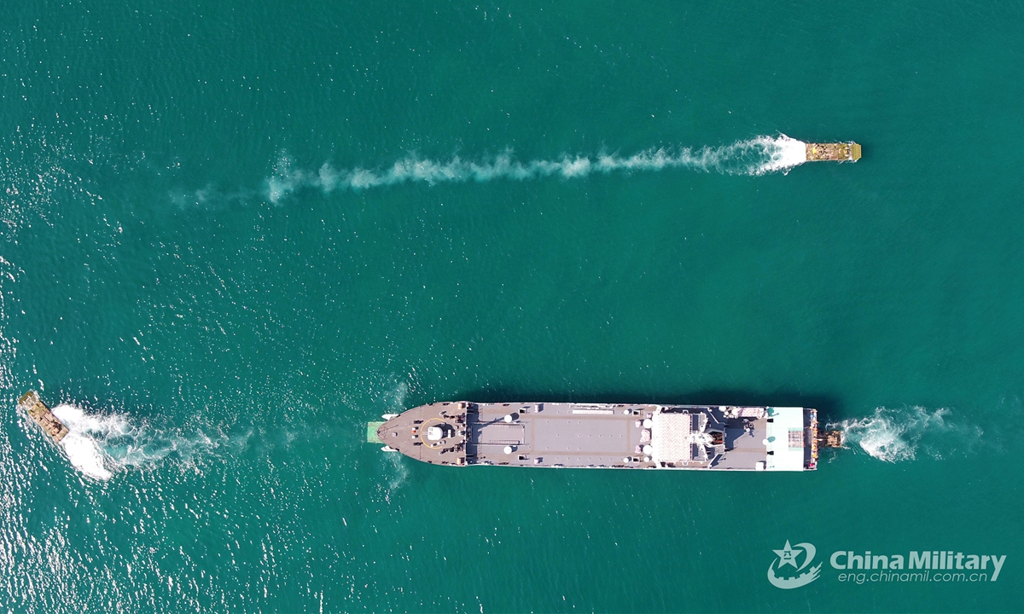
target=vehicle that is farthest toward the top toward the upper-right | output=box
[804,144,860,162]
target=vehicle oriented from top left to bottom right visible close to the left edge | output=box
[20,392,69,441]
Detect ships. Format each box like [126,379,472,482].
[367,401,828,471]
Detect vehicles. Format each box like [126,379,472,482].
[20,392,69,441]
[804,144,860,162]
[821,429,842,447]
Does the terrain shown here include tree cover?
No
